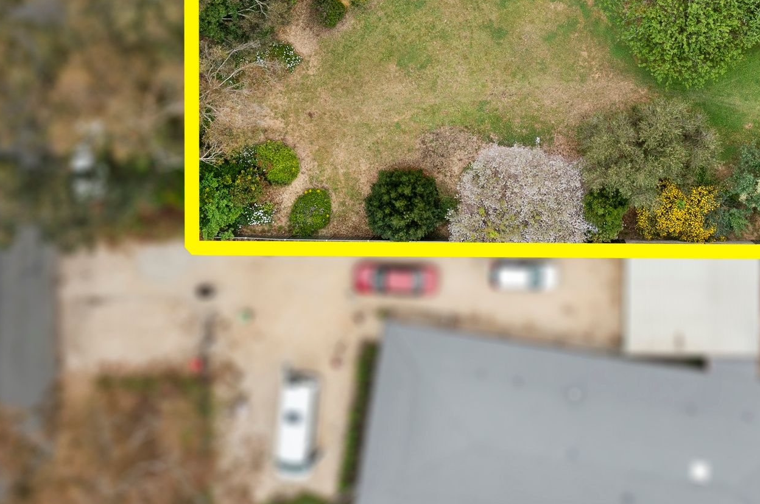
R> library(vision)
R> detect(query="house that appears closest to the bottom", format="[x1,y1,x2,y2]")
[356,320,760,504]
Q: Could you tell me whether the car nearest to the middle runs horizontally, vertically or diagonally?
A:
horizontally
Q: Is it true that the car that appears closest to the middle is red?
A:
Yes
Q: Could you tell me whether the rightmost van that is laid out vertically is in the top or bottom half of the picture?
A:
bottom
